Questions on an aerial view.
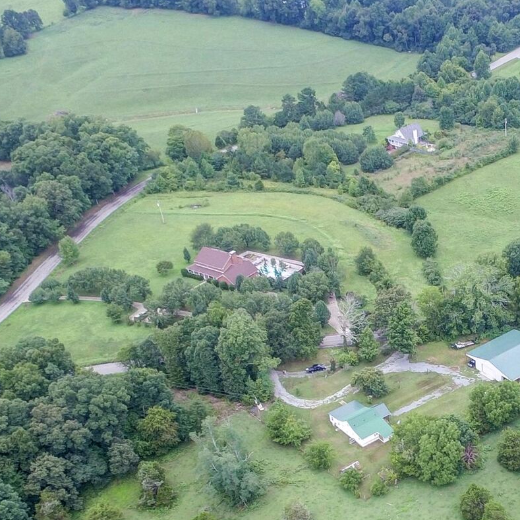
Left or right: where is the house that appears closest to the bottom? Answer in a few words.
right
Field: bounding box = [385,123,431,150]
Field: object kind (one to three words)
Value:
house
